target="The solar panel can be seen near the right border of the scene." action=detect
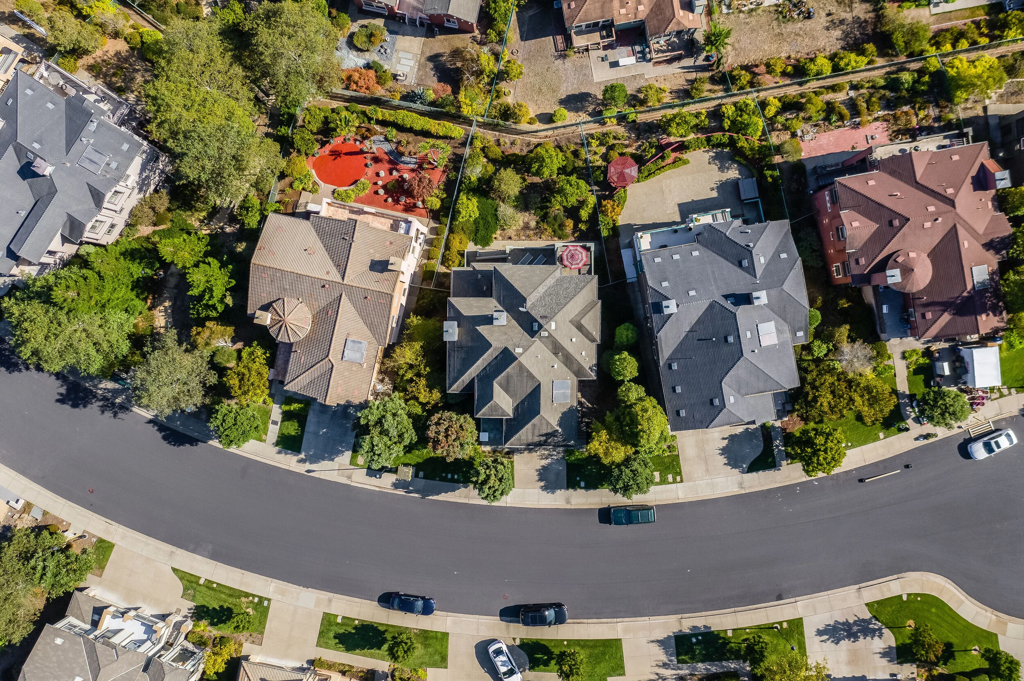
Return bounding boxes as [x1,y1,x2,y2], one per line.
[972,267,993,286]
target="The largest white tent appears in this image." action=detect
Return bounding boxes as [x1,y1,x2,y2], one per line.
[949,345,1001,388]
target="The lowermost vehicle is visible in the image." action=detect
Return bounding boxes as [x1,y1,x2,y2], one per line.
[490,640,524,681]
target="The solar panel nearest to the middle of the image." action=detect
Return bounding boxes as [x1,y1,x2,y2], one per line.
[551,382,574,402]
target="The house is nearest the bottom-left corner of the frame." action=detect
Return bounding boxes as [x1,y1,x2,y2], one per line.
[18,588,214,681]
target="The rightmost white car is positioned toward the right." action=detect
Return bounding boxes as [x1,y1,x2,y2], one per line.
[965,428,1018,460]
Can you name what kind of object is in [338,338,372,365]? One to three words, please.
solar panel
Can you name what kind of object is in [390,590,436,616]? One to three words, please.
car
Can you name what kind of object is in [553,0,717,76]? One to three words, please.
house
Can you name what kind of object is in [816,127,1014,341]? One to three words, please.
house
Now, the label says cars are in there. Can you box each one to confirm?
[965,428,1018,460]
[610,503,657,527]
[390,590,436,616]
[521,603,567,628]
[490,640,524,681]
